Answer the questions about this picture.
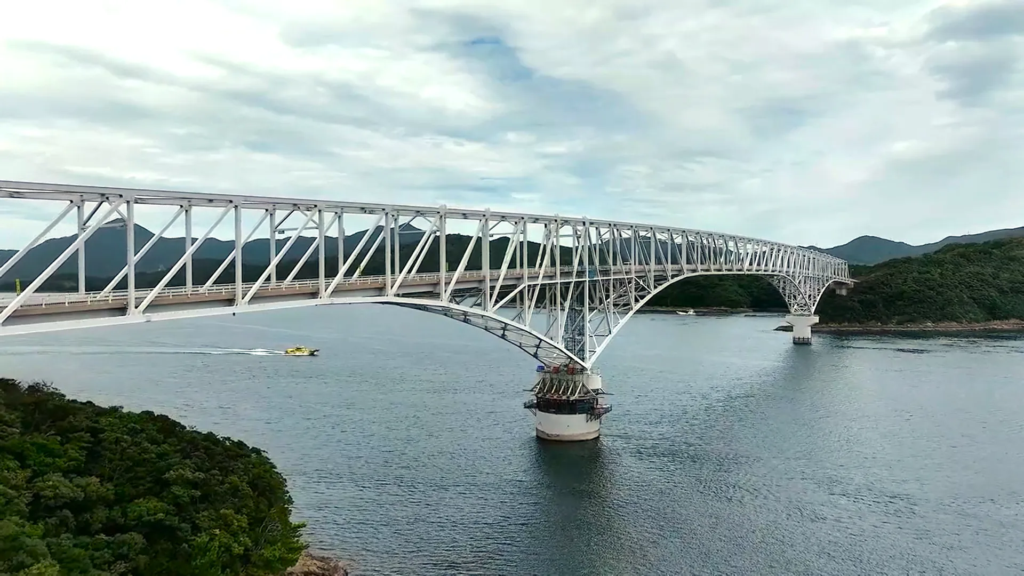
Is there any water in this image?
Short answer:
Yes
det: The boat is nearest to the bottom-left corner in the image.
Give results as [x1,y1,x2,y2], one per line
[285,343,320,355]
